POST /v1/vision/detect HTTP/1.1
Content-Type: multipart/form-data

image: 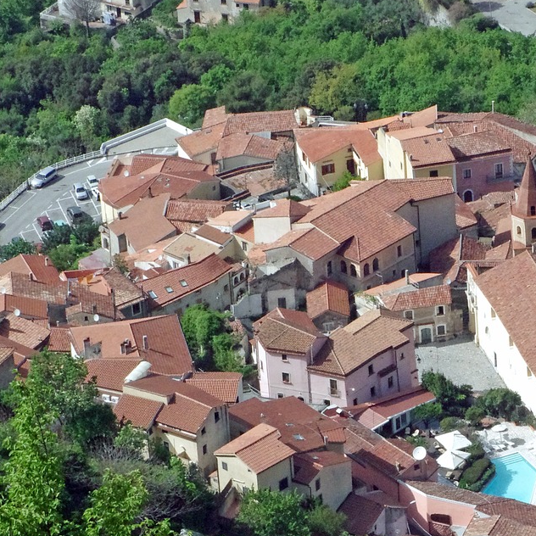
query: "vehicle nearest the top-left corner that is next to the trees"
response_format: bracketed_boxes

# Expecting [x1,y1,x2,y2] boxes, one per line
[28,164,61,187]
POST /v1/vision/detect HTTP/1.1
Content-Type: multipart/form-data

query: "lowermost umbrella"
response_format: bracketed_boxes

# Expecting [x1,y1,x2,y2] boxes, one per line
[433,450,472,480]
